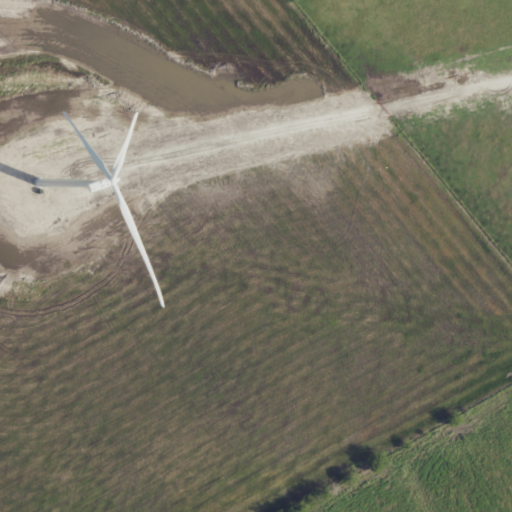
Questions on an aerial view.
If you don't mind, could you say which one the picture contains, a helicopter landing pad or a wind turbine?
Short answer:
wind turbine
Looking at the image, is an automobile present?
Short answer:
No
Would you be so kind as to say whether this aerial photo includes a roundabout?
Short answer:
No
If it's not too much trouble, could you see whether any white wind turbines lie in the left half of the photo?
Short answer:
Yes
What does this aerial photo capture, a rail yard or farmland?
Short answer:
farmland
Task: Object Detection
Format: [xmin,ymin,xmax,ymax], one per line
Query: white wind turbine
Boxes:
[35,112,164,306]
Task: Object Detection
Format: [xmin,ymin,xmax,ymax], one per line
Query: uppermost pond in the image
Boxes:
[15,8,321,112]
